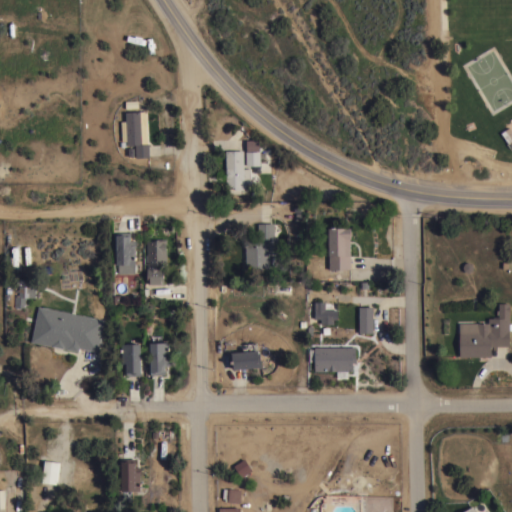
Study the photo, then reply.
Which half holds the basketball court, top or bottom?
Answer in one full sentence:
You can find the basketball court in the top half.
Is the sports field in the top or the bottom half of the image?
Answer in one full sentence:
It is in the top half that the sports field appears.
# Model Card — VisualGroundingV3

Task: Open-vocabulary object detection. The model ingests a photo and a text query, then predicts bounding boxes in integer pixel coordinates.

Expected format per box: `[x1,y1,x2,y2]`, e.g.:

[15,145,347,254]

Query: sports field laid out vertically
[450,0,512,163]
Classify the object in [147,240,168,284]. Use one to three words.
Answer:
house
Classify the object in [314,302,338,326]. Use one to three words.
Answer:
house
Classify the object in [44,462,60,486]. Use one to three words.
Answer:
barn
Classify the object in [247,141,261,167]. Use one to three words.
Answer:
shed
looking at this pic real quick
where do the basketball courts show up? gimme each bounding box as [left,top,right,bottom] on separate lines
[464,48,512,115]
